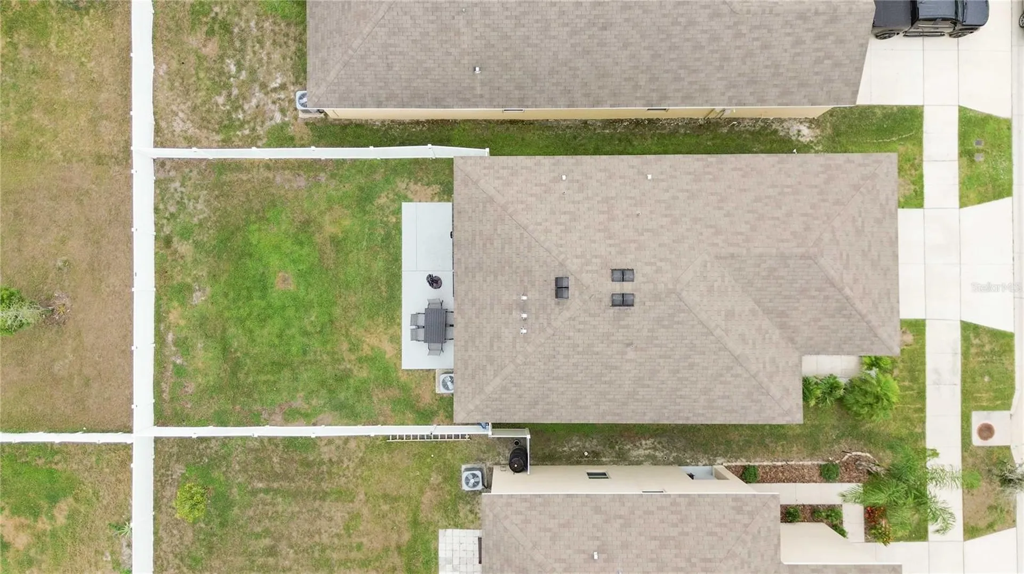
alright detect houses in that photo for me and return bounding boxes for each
[306,0,873,125]
[482,464,901,574]
[452,153,900,424]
